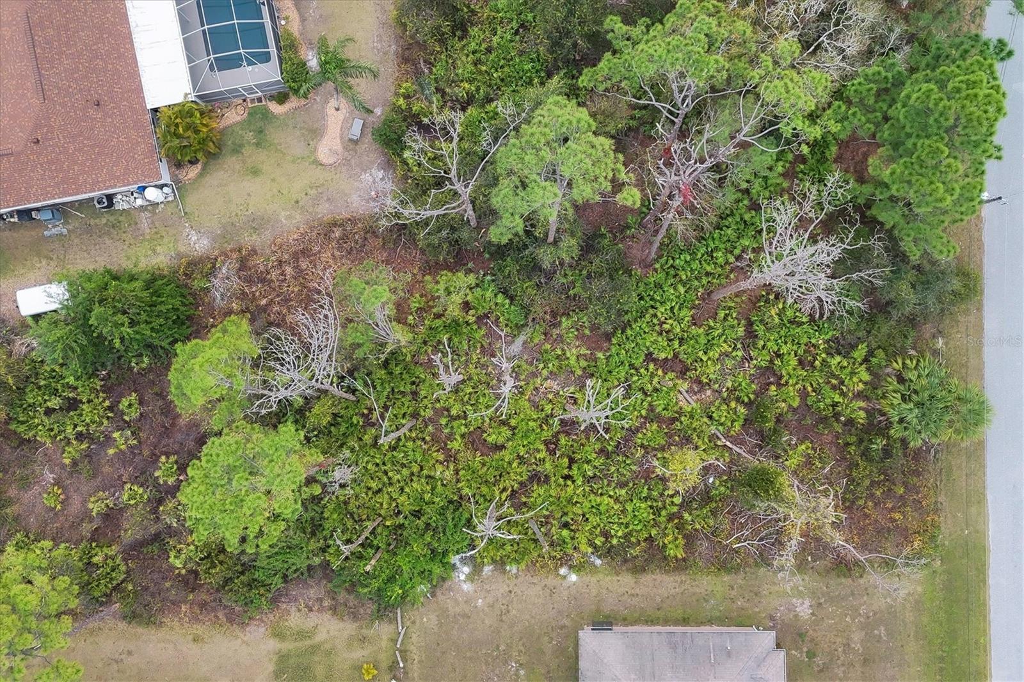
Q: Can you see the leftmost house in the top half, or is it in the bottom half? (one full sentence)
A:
The leftmost house is in the top half of the image.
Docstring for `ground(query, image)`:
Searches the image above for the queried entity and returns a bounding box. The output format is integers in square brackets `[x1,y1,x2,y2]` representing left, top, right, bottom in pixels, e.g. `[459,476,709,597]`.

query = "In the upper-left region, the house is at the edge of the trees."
[0,0,210,215]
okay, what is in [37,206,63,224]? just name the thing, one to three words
work vehicle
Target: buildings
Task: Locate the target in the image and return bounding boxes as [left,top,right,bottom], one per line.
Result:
[0,0,210,215]
[577,612,788,682]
